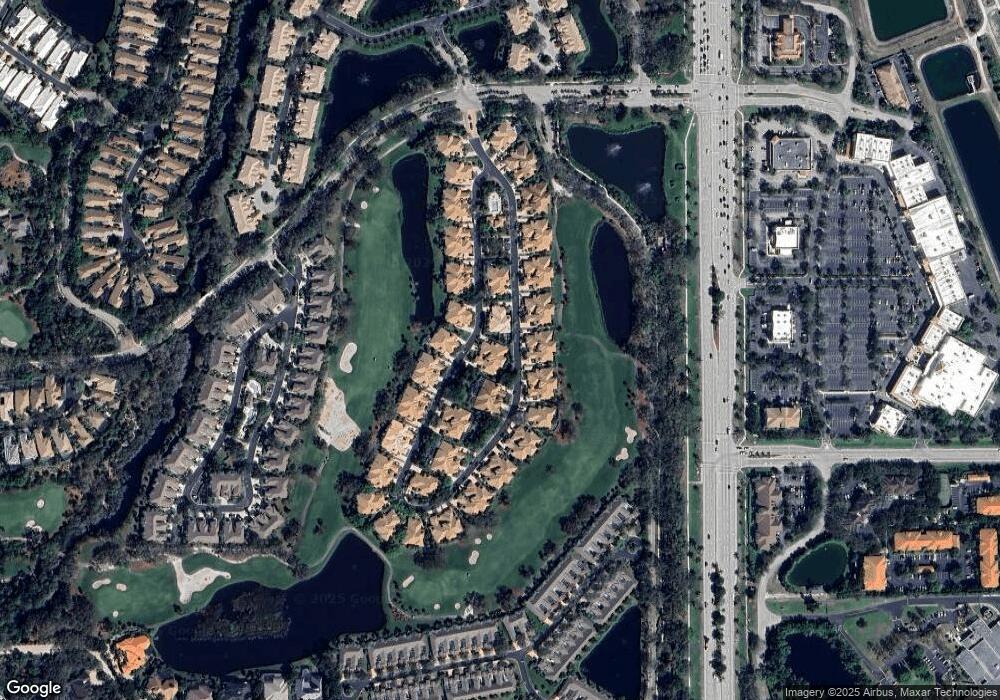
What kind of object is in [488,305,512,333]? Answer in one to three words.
house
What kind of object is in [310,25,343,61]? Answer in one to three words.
building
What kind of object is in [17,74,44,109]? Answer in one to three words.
house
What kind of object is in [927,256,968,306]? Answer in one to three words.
building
